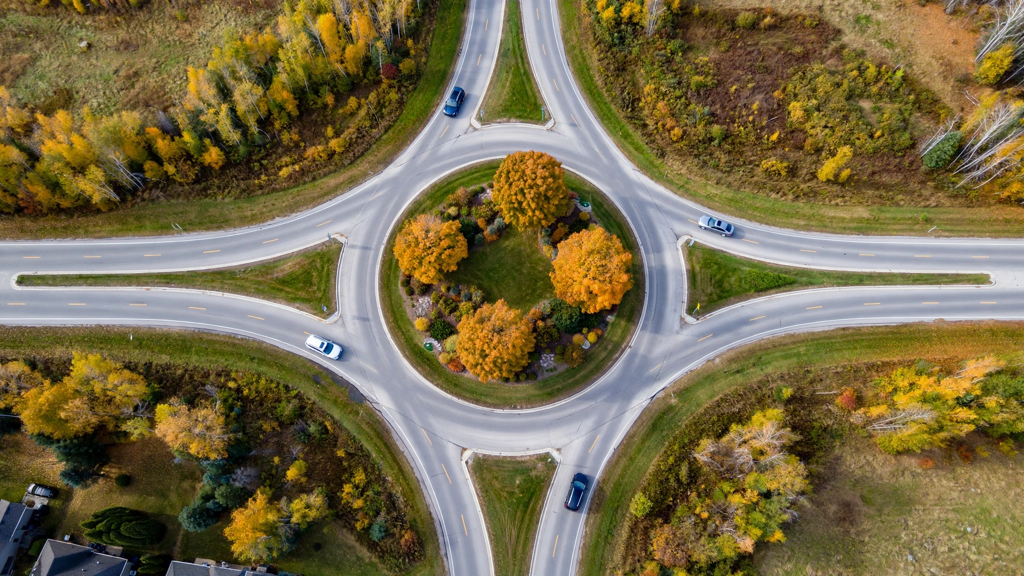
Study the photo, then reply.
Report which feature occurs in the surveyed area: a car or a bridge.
car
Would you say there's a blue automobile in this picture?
Yes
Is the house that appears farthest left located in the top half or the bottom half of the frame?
bottom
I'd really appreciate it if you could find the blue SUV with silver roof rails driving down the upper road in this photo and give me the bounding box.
[443,88,466,119]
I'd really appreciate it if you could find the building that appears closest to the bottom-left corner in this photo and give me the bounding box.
[0,497,36,565]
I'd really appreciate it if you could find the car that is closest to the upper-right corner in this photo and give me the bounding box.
[697,217,735,239]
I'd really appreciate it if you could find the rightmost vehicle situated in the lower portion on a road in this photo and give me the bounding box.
[563,473,589,514]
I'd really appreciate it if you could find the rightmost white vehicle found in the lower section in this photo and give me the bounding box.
[304,334,343,360]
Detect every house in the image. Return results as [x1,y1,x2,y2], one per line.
[167,560,280,576]
[0,497,36,565]
[31,538,134,576]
